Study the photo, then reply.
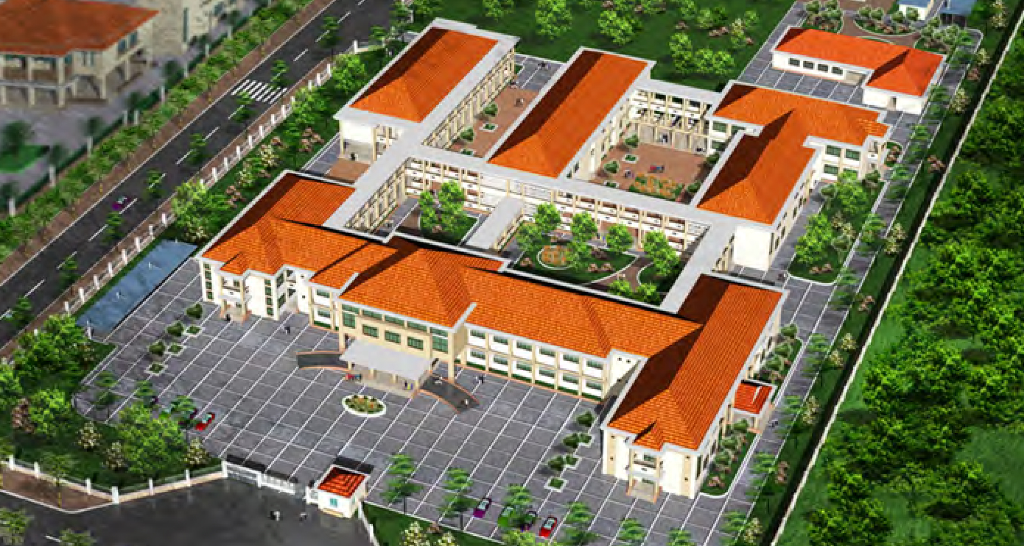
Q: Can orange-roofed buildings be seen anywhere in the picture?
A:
Yes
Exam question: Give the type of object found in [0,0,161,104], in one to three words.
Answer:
house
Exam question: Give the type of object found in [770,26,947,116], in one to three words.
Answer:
building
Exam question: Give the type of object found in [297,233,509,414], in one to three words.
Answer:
building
